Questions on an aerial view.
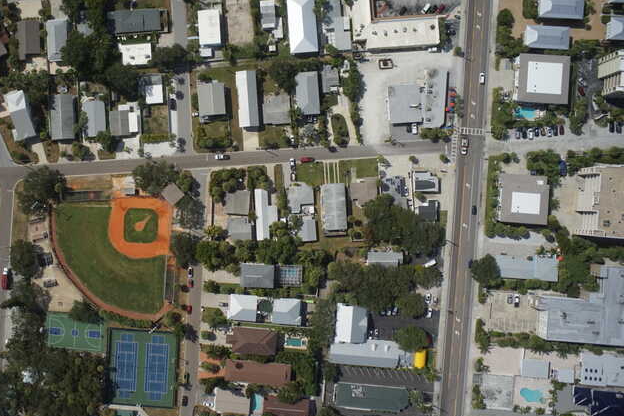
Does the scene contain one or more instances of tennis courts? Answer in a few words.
Yes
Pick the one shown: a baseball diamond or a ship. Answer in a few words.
baseball diamond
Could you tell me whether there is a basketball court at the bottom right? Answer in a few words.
No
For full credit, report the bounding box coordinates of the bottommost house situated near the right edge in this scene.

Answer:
[569,384,624,416]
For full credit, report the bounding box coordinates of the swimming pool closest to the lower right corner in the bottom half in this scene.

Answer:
[519,387,545,403]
